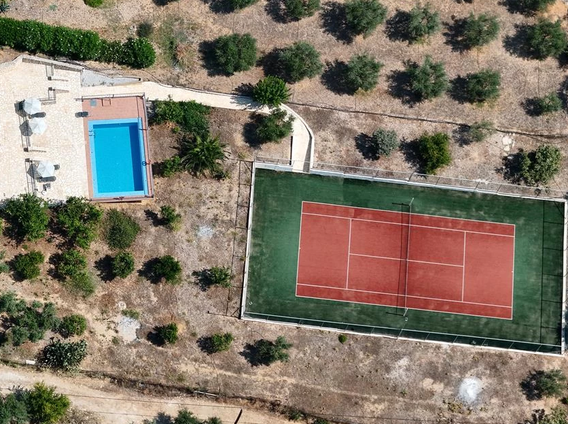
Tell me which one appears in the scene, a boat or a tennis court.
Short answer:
tennis court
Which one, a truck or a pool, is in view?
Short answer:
pool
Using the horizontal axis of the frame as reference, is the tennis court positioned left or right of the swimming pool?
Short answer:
to the right of it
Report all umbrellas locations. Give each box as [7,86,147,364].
[28,118,46,136]
[22,98,41,116]
[35,159,54,179]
